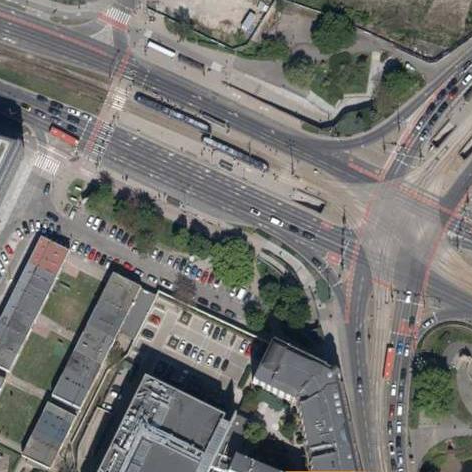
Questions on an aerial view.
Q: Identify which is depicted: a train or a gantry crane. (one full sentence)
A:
I can see a train in this picture.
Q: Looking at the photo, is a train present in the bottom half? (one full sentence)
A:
No, I see no train in the bottom half.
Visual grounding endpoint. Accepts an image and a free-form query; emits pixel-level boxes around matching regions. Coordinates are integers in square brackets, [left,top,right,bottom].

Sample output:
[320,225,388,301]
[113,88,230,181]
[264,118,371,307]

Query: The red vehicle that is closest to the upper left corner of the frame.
[49,126,79,145]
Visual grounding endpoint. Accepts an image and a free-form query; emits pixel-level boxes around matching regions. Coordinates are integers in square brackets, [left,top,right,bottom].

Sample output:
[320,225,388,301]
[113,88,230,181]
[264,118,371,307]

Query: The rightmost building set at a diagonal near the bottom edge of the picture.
[252,335,364,472]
